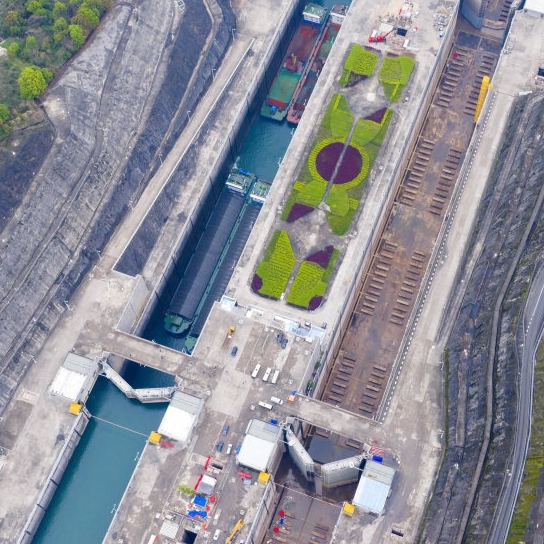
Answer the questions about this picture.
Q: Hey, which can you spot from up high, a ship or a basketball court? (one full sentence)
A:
The one in the frame is a ship.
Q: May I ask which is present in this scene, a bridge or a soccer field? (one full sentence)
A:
Of the two, only a bridge appears.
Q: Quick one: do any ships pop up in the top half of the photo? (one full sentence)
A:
Yes, there is a ship in the top half of the photo.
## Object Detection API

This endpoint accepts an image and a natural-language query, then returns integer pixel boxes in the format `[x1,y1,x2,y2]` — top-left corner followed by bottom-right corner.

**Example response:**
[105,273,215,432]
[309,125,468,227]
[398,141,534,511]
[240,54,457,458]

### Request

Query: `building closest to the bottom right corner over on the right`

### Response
[352,459,396,516]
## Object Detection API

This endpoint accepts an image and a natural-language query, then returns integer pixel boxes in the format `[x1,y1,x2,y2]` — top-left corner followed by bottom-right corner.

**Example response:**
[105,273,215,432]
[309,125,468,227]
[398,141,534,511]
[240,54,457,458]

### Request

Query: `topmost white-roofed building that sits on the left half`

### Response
[48,352,96,405]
